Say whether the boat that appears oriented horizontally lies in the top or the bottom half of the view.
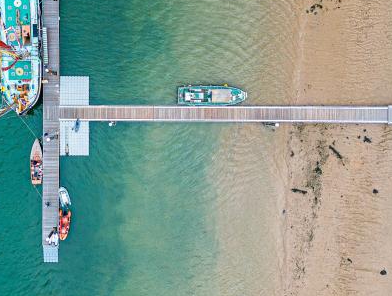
top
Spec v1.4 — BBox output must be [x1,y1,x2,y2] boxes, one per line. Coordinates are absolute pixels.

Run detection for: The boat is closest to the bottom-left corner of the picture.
[59,209,71,241]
